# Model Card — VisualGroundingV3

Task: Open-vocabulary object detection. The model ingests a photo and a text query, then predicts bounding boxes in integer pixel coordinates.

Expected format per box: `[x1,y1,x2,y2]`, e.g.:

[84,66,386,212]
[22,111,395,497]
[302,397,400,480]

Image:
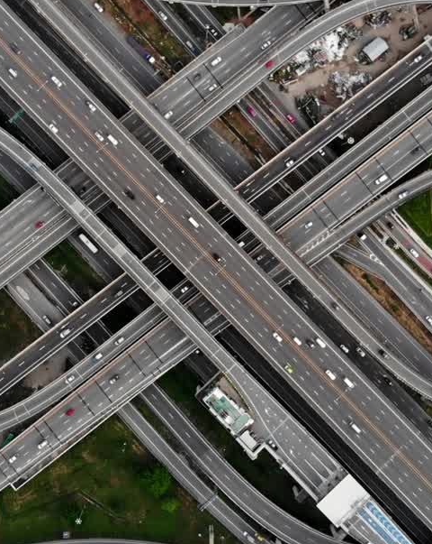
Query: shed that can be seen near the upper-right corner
[362,36,388,62]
